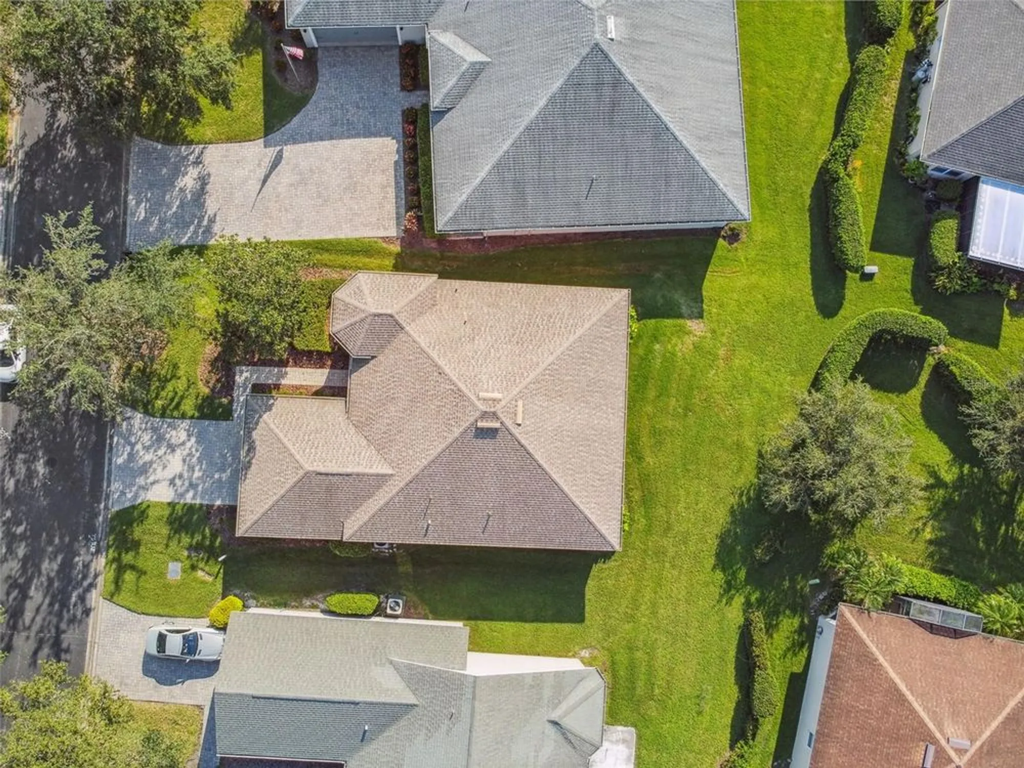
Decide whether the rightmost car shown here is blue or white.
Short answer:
white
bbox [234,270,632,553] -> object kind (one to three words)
house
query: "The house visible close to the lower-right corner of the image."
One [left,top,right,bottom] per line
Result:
[790,590,1024,768]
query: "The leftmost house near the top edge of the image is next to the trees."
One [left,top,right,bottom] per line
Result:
[282,0,751,242]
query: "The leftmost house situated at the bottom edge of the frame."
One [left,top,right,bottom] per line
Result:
[214,608,609,768]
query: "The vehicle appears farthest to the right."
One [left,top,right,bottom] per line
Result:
[144,625,225,669]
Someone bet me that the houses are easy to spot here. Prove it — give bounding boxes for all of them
[234,270,632,553]
[214,608,609,768]
[904,0,1024,277]
[282,0,751,242]
[790,590,1024,768]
